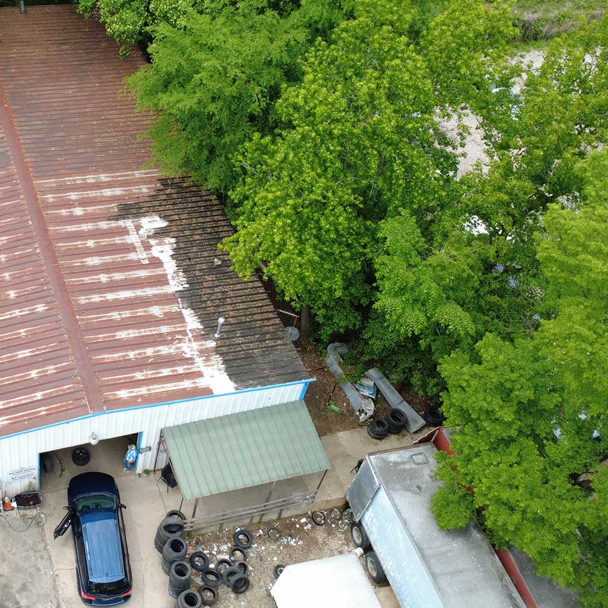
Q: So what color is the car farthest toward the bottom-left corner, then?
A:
blue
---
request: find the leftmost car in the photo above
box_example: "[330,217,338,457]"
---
[46,471,133,608]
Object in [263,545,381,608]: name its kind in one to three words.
trailer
